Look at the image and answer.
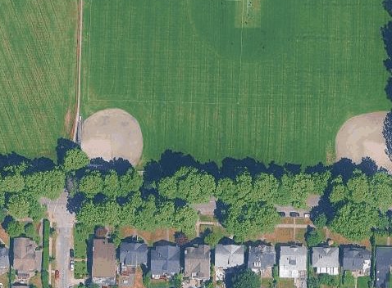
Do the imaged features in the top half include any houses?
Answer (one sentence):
No, no house appears in the top half.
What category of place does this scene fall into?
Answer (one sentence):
It's a sports ground.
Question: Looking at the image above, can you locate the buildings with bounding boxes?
[249,243,276,278]
[150,243,180,278]
[0,242,10,275]
[13,235,42,278]
[311,245,339,275]
[279,243,307,279]
[343,245,371,275]
[184,244,211,280]
[375,243,392,288]
[120,237,147,276]
[92,237,118,283]
[215,242,245,278]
